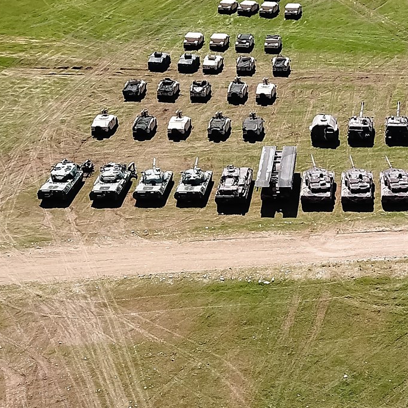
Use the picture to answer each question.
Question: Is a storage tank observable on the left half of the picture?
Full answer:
No, the scene shows no storage tank on the left half of the picture.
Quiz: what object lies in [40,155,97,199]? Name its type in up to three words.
vehicle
